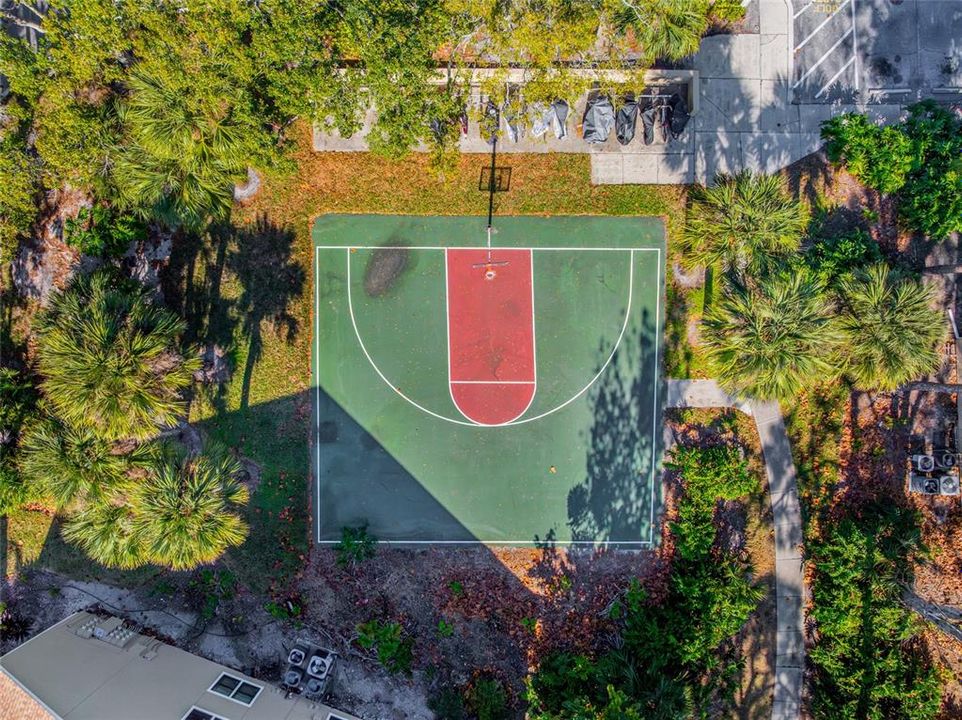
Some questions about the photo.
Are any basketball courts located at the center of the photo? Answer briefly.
Yes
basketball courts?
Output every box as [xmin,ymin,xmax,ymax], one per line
[310,215,667,548]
